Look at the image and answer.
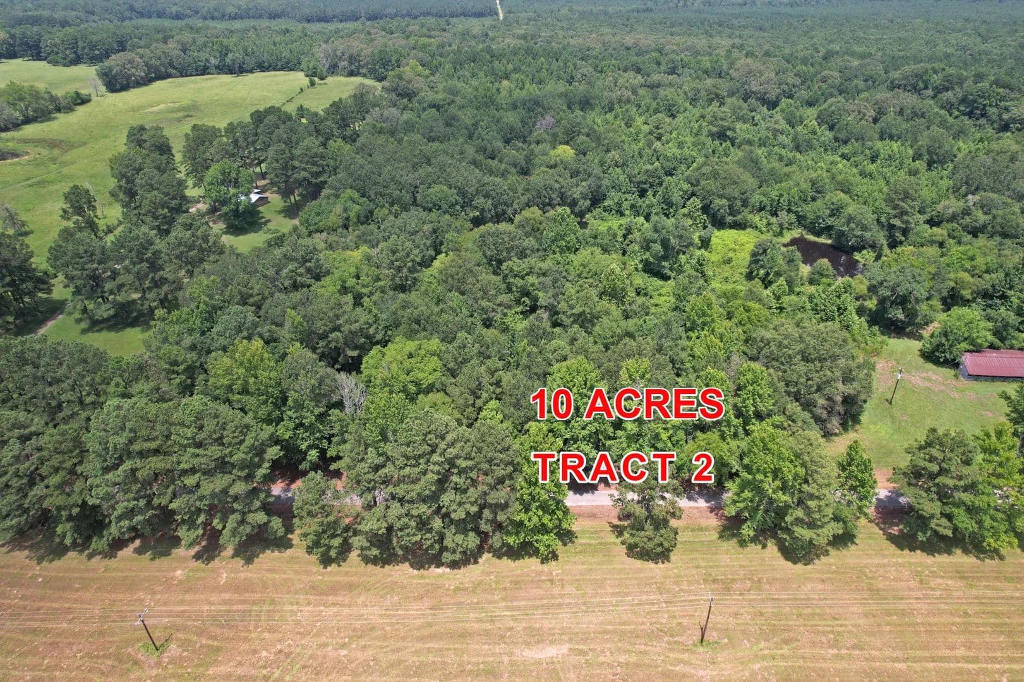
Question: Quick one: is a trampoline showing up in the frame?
No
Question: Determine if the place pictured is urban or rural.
rural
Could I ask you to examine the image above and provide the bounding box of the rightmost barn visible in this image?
[948,351,1024,383]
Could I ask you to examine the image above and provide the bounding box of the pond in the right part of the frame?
[782,235,865,279]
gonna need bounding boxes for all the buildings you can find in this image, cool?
[243,191,268,207]
[948,351,1024,383]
